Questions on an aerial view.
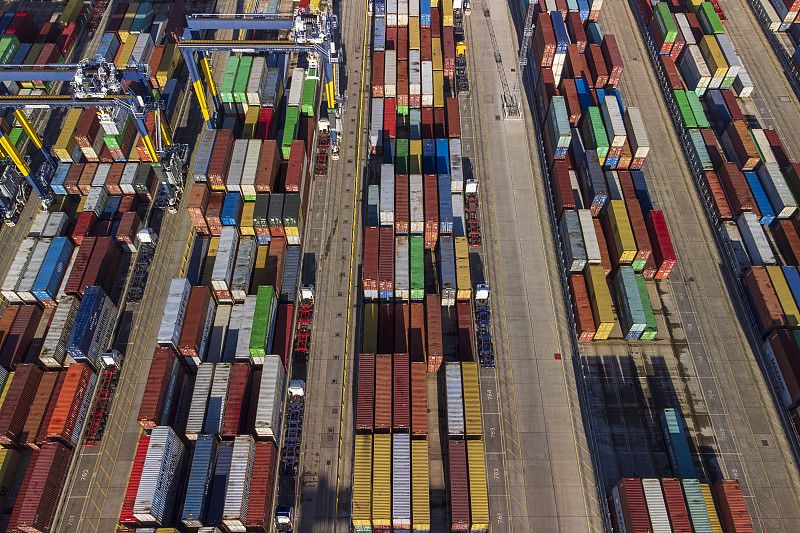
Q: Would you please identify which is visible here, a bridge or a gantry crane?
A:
gantry crane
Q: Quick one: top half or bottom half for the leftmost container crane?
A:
top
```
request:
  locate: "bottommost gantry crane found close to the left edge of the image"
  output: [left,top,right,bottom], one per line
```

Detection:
[0,150,52,220]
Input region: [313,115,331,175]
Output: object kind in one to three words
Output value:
vehicle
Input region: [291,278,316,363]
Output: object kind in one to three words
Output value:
truck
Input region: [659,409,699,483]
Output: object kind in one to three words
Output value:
shipping container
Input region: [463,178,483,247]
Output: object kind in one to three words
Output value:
vehicle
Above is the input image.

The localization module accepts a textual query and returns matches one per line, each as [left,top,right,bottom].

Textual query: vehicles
[473,283,496,369]
[454,41,469,91]
[123,227,159,304]
[452,0,464,34]
[80,351,124,449]
[291,278,316,363]
[271,505,294,533]
[463,178,483,247]
[277,381,305,484]
[712,0,730,20]
[313,115,331,175]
